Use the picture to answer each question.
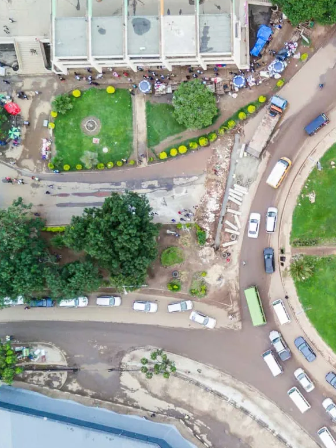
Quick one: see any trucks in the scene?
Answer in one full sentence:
Yes, a truck is visible in the scene.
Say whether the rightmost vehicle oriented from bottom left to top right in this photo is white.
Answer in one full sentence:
No, the rightmost vehicle oriented from bottom left to top right is actually blue.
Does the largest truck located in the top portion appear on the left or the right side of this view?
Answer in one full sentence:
The largest truck located in the top portion is on the right side of the image.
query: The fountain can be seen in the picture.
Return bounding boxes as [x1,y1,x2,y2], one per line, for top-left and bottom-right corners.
[80,116,100,136]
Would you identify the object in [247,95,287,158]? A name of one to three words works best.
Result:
truck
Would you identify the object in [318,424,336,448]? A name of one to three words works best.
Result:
vehicle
